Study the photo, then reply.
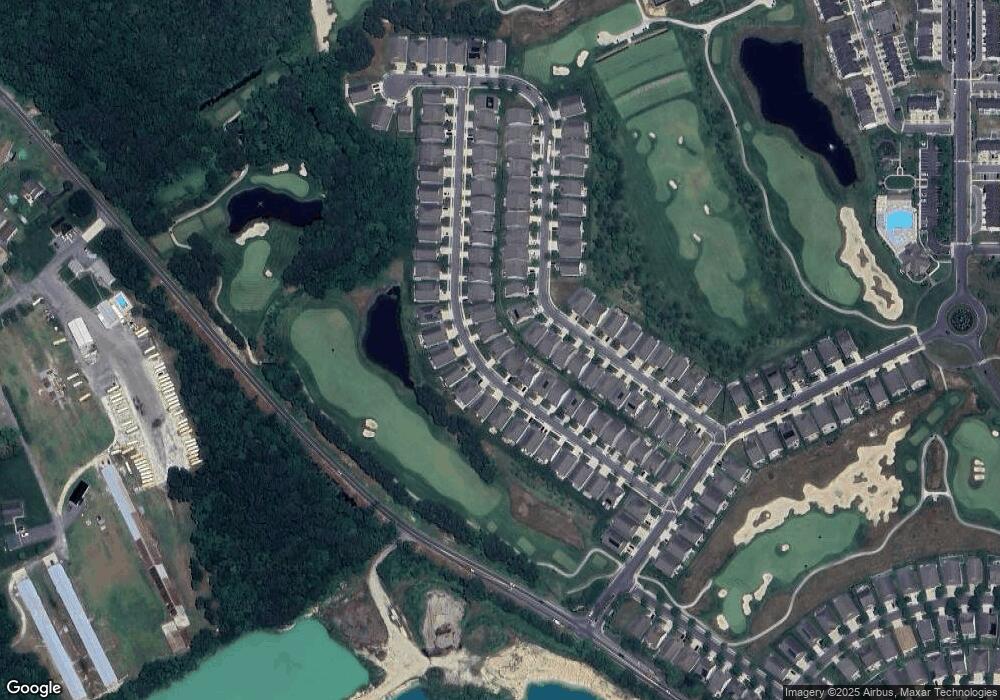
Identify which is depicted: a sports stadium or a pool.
pool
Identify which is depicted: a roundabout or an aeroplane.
roundabout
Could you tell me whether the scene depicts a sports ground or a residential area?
residential area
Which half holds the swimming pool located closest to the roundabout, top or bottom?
top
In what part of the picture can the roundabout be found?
right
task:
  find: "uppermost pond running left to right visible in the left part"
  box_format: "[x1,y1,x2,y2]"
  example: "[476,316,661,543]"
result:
[228,186,324,234]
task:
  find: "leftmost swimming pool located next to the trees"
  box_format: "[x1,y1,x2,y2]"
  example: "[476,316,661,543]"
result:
[112,292,133,314]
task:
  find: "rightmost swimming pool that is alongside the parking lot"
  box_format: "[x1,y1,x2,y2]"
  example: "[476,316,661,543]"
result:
[876,195,918,255]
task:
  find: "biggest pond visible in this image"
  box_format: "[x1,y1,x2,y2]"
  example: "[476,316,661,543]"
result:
[740,38,857,186]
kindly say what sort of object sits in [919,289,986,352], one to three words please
roundabout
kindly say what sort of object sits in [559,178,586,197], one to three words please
house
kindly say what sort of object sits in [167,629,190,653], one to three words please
shed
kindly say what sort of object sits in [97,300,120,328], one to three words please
building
